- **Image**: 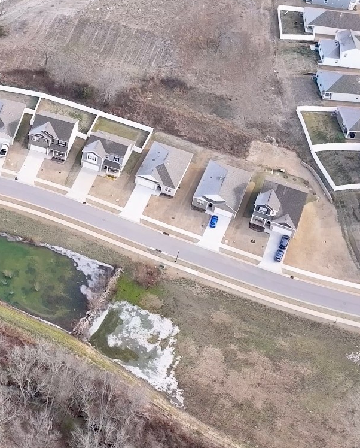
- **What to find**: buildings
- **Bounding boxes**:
[336,107,360,139]
[249,176,310,238]
[0,99,31,146]
[190,158,252,219]
[315,69,360,102]
[29,113,79,158]
[299,7,360,35]
[318,36,360,68]
[135,140,194,198]
[81,129,136,178]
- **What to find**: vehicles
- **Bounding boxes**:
[273,247,286,264]
[0,141,10,157]
[279,232,292,249]
[208,212,219,228]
